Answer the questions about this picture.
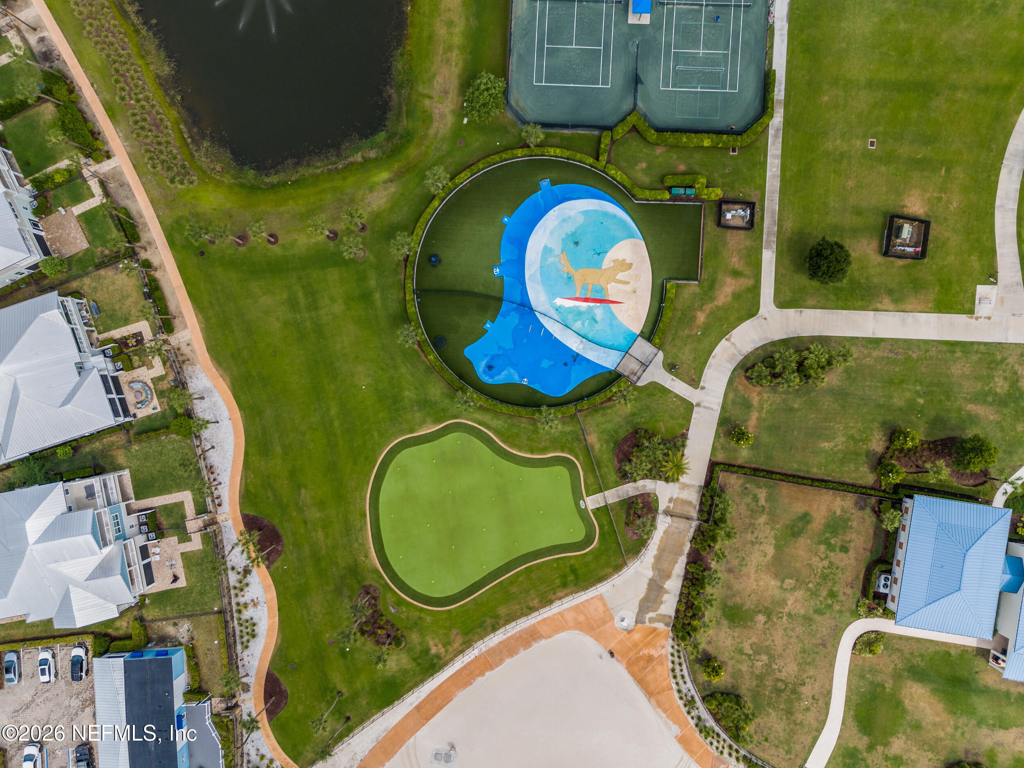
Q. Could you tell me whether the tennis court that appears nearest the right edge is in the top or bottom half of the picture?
top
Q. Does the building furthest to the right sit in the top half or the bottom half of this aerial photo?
bottom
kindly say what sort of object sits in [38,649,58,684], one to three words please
car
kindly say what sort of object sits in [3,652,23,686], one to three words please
car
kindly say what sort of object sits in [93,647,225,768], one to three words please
building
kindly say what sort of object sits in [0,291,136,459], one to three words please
house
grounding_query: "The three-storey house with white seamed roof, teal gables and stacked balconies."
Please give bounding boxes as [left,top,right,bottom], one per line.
[0,471,161,629]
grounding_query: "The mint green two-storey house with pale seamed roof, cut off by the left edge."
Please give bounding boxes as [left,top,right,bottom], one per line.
[0,155,54,281]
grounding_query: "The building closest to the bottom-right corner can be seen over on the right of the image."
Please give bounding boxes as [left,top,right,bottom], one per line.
[972,589,1024,682]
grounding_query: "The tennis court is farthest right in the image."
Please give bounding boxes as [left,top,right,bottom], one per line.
[638,0,768,130]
